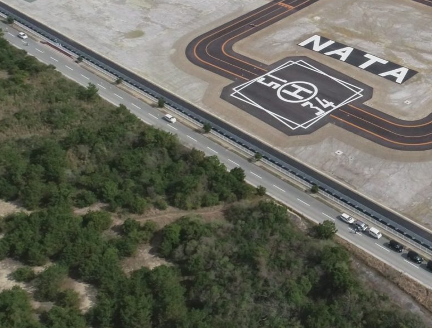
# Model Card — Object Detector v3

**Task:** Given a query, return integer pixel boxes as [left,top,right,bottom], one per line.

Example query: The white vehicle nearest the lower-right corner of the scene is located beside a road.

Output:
[367,224,383,238]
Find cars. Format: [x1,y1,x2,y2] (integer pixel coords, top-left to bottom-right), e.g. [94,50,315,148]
[164,114,175,123]
[339,210,355,222]
[354,218,369,230]
[406,248,423,262]
[426,259,432,270]
[18,32,27,38]
[388,238,405,251]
